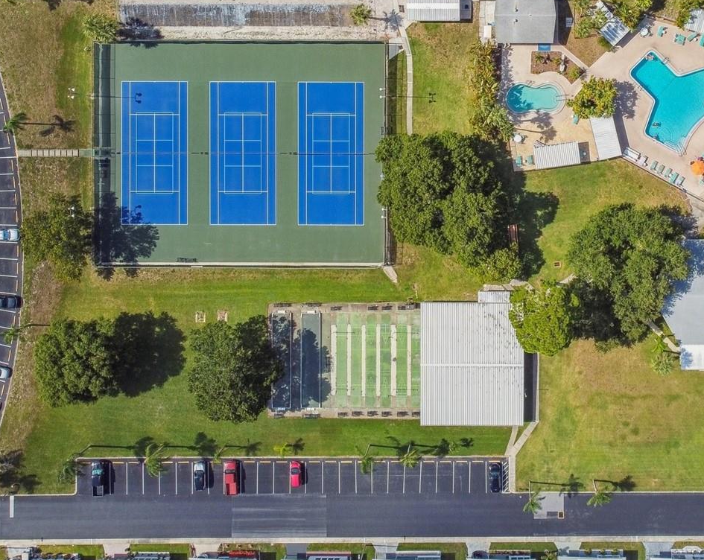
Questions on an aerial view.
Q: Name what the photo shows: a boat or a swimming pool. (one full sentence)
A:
There is a swimming pool in the scene.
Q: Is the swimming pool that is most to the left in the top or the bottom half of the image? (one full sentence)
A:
It is in the top half that the swimming pool that is most to the left appears.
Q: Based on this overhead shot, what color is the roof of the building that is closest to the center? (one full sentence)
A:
From above, the roof of the building that is closest to the center looks white.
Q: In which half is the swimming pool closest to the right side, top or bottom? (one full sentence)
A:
The top half of the photo is where the swimming pool closest to the right side is.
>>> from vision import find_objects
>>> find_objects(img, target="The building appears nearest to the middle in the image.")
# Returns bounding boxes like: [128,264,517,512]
[420,290,524,425]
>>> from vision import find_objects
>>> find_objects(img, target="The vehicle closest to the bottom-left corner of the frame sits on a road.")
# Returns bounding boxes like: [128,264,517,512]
[90,460,107,497]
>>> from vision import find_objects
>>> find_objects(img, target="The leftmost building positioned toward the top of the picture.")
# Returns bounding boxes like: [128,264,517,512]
[407,0,460,21]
